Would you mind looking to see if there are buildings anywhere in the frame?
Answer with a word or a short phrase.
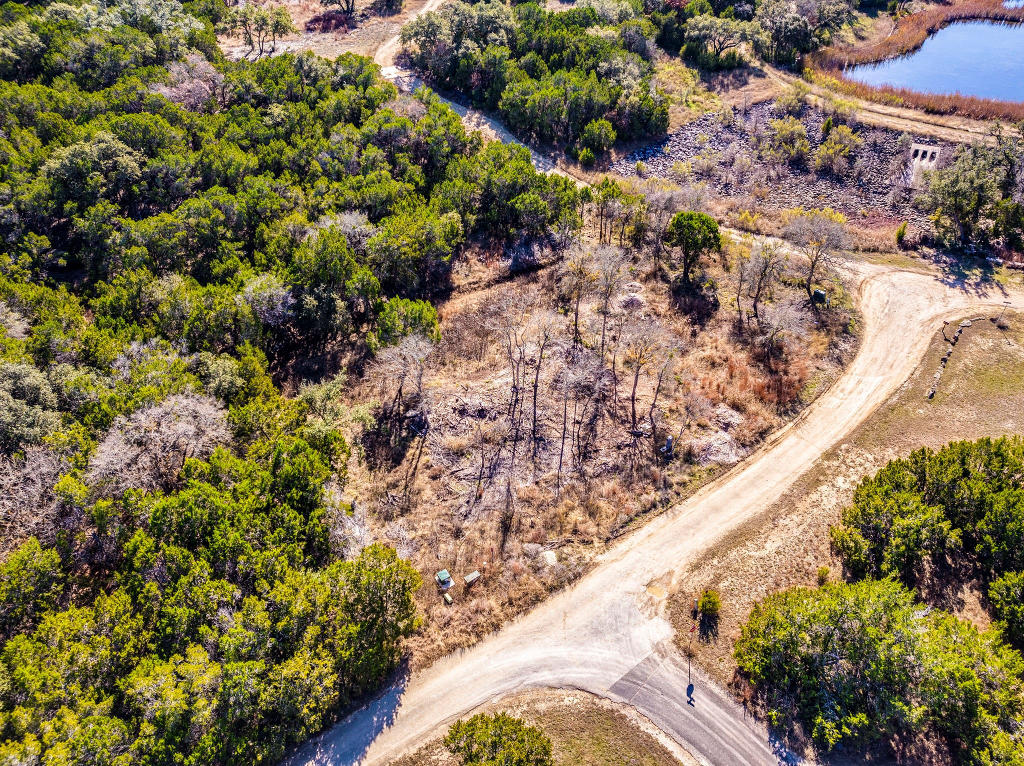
No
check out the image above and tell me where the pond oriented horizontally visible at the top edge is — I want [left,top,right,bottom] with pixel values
[845,20,1024,104]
